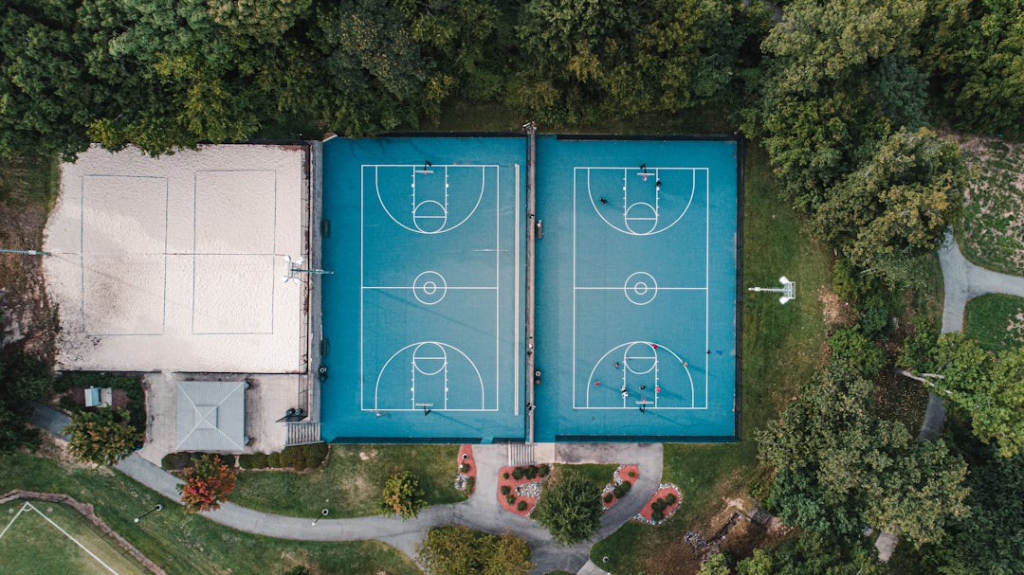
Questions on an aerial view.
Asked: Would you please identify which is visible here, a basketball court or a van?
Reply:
basketball court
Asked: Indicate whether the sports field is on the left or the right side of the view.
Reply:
left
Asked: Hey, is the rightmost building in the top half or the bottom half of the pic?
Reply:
bottom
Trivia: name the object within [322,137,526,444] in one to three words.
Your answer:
basketball court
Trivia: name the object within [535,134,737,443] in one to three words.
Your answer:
basketball court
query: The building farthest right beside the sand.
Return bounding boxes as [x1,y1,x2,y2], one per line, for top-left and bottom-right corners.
[176,381,253,450]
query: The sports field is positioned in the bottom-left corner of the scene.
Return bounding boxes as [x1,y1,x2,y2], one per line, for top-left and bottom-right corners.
[0,497,146,575]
